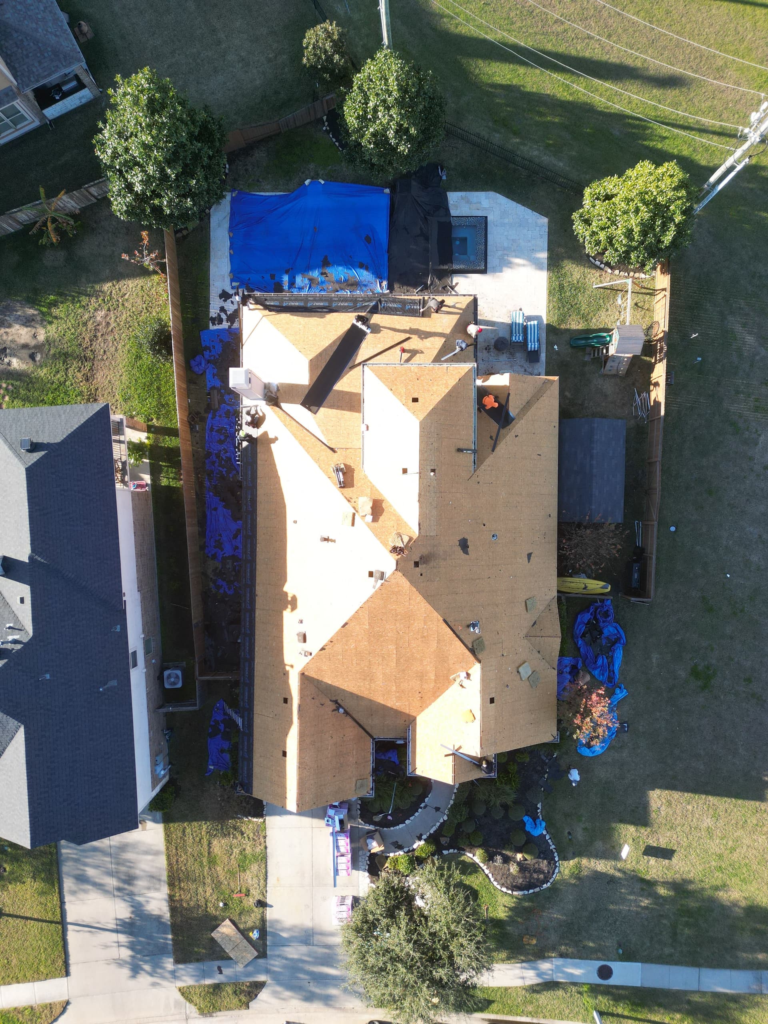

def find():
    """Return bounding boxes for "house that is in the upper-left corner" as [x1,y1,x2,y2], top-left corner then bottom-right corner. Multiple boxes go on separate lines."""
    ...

[0,0,104,146]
